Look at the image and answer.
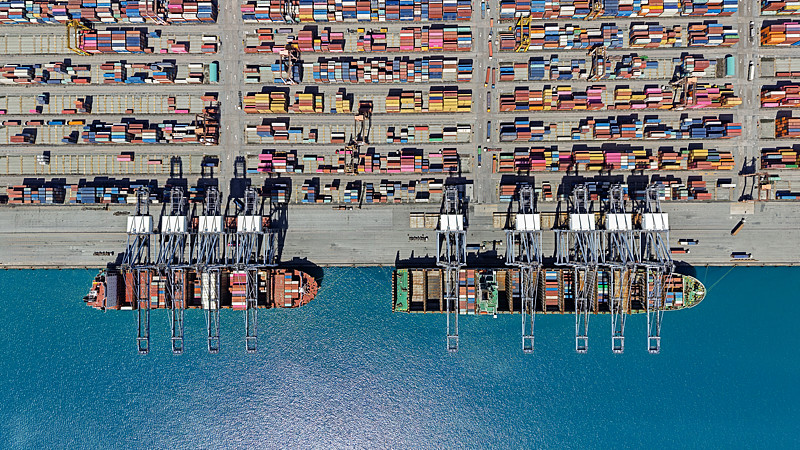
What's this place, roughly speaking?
port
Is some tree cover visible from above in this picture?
No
